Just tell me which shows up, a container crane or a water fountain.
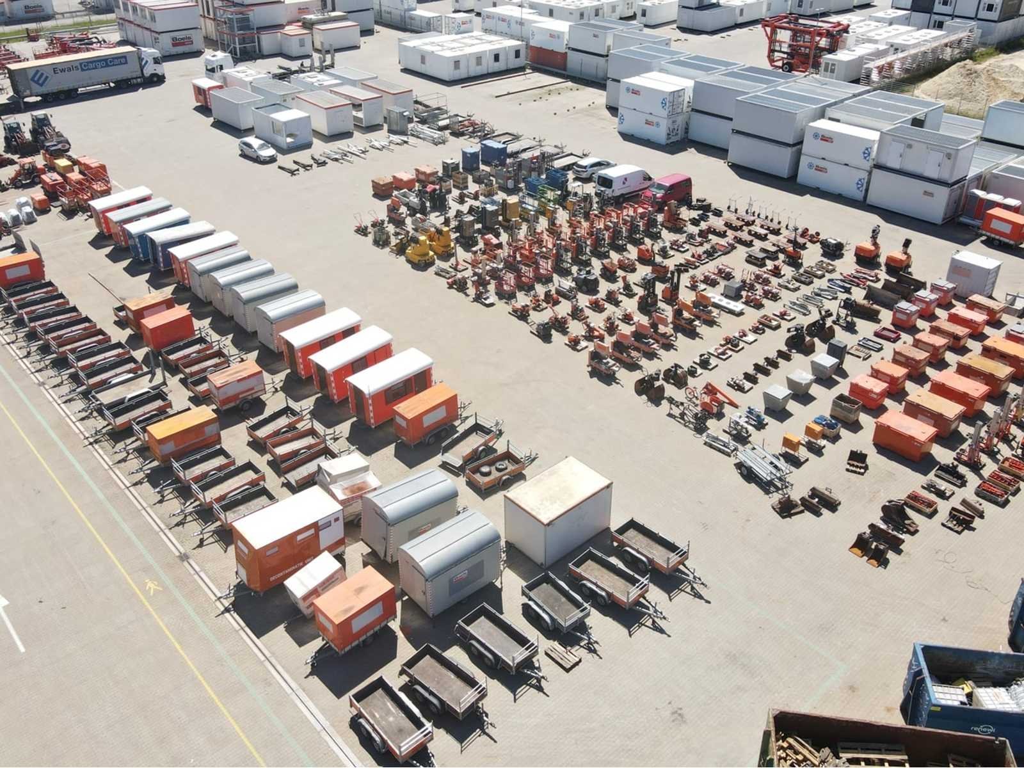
container crane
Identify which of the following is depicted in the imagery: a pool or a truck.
truck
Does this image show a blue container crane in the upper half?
No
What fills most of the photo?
paved ground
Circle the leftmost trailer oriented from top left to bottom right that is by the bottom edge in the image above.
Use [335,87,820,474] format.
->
[348,677,445,768]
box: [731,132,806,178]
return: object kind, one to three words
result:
building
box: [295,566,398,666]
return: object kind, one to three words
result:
trailer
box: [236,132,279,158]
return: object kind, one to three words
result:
car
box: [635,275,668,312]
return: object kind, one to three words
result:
work vehicle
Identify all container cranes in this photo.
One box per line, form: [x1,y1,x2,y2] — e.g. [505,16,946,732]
[767,13,855,74]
